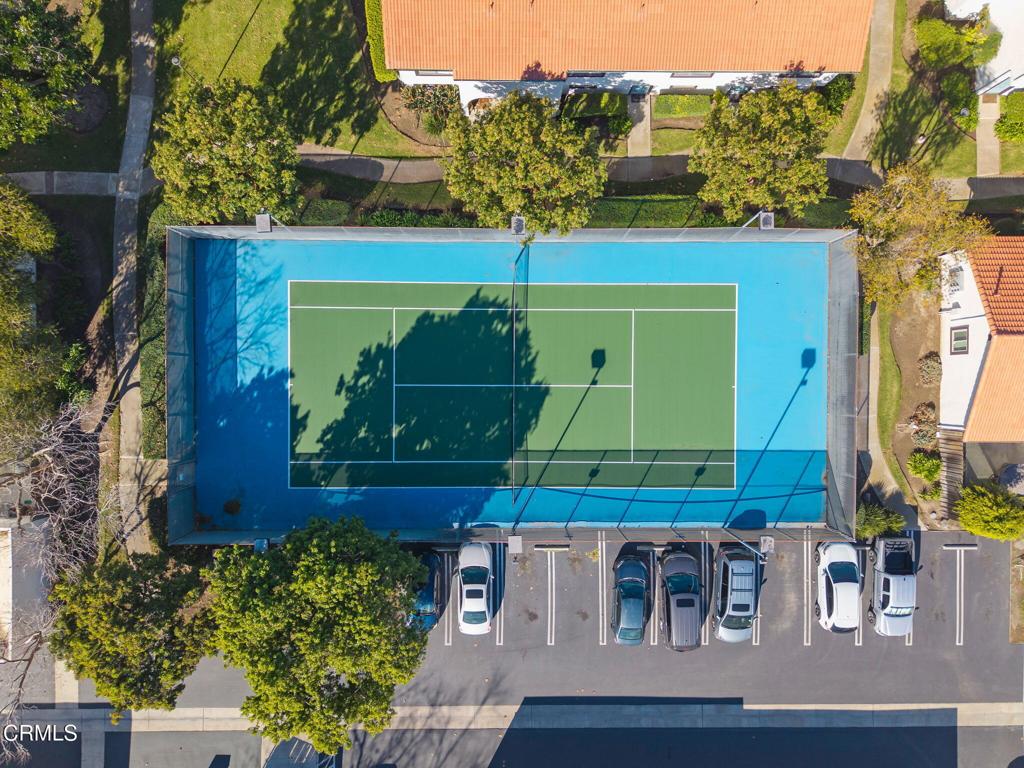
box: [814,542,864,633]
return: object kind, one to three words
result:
car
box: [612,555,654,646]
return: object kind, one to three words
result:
car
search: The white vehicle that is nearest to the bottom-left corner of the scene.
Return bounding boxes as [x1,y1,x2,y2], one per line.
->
[455,542,496,635]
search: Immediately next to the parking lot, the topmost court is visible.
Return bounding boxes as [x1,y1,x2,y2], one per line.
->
[193,238,829,528]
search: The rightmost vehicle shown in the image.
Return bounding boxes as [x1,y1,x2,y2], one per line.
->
[868,536,920,636]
